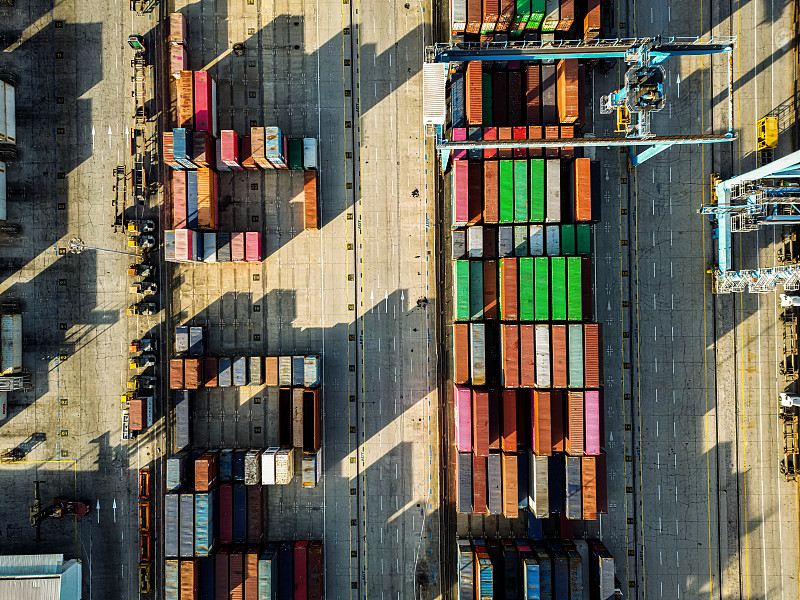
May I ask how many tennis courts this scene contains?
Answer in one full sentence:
The picture shows no tennis courts.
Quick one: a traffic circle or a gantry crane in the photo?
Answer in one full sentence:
The one in the frame is a gantry crane.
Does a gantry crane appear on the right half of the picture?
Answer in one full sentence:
Yes, looking on the right half of the picture, one can make out a gantry crane.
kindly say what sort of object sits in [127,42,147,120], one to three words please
vehicle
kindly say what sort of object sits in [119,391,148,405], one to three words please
work vehicle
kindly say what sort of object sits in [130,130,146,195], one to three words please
trailer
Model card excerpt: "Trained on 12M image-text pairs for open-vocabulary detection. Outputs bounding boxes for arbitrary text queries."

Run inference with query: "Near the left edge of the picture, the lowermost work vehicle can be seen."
[21,482,86,537]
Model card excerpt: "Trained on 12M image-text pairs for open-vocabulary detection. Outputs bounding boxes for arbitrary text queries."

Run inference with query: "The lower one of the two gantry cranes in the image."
[695,162,800,295]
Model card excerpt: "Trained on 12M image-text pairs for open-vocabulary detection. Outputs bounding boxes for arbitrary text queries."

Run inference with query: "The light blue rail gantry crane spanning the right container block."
[424,33,737,180]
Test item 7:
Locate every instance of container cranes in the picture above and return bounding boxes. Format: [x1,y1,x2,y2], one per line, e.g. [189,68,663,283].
[424,33,737,180]
[695,162,800,295]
